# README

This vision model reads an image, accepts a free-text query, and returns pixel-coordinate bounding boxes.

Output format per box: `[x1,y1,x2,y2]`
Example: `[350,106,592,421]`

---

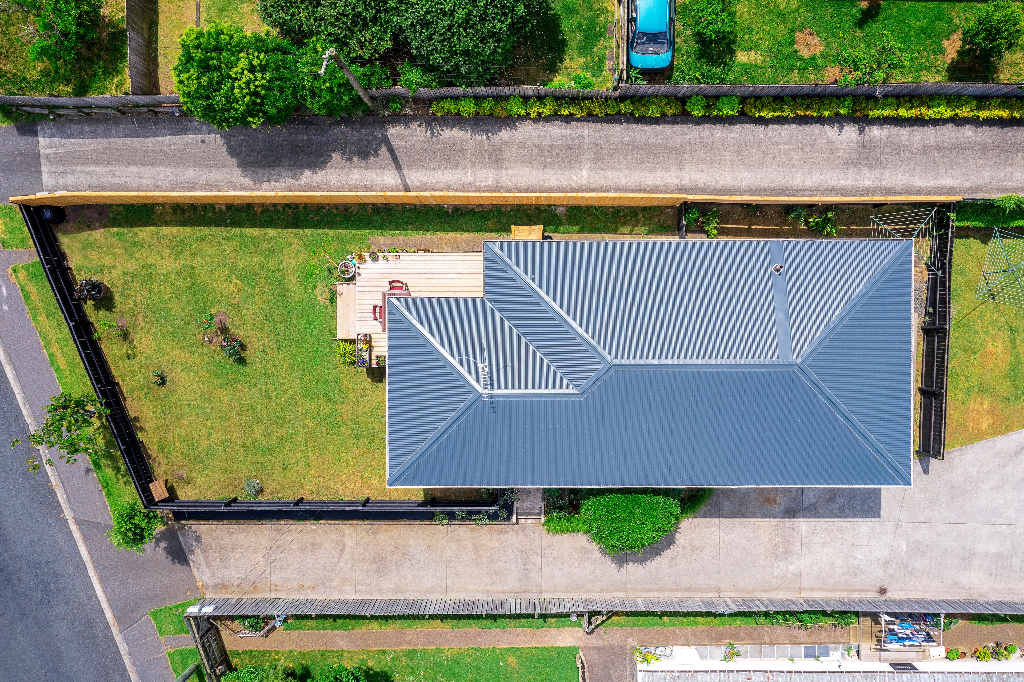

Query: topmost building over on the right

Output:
[384,240,912,489]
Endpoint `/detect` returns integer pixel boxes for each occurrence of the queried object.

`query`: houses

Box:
[639,658,1024,682]
[384,240,912,489]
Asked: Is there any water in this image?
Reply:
No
